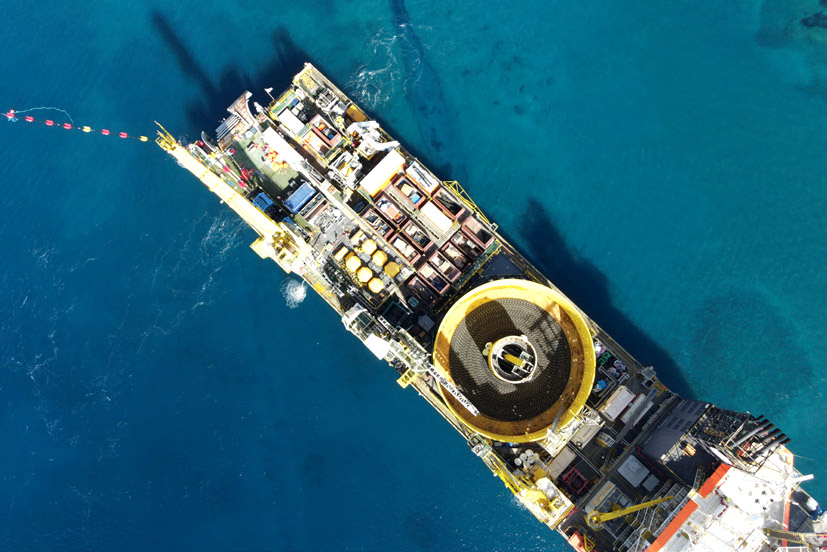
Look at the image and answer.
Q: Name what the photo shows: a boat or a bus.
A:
boat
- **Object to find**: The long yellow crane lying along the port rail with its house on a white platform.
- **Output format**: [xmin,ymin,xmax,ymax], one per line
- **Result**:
[470,430,577,525]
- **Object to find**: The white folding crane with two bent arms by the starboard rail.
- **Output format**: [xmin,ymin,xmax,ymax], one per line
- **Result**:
[346,120,401,160]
